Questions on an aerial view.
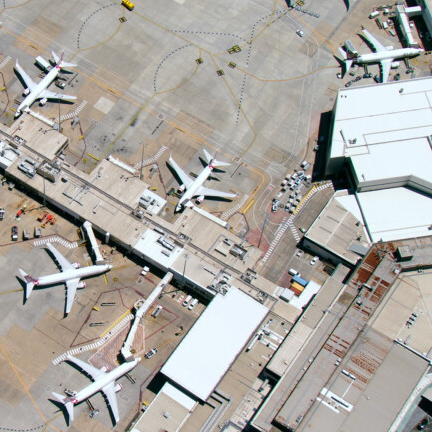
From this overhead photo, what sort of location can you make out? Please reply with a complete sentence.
The area seen from above is an airport.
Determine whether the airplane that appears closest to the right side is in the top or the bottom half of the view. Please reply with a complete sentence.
You can find the airplane that appears closest to the right side in the top half.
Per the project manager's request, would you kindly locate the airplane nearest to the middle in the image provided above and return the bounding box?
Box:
[170,149,237,212]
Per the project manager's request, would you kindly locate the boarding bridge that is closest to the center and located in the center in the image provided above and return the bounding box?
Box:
[178,196,230,230]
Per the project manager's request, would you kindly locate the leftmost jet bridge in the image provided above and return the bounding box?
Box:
[19,103,60,133]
